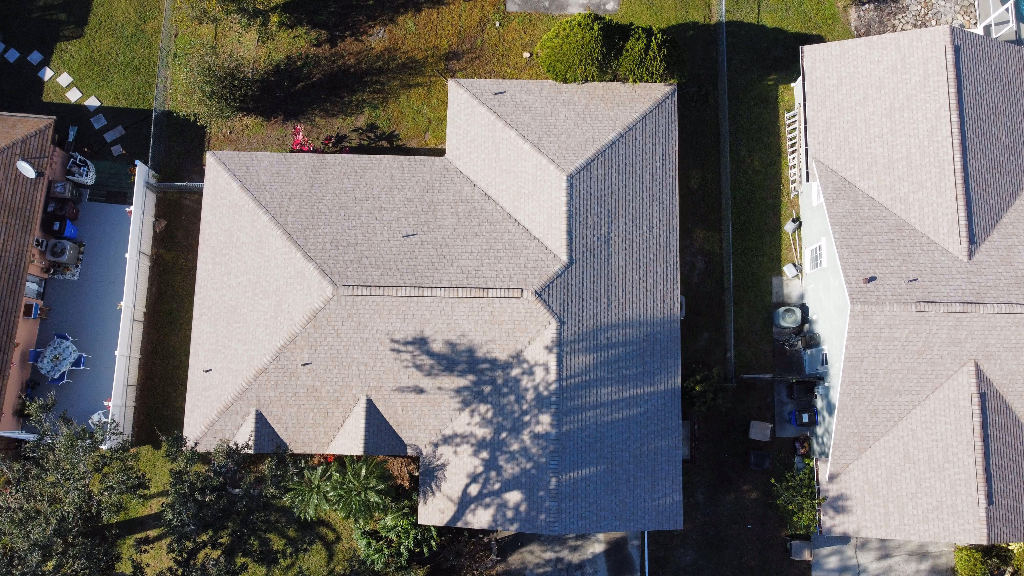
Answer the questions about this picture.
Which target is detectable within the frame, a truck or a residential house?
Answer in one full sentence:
The image shows a residential house.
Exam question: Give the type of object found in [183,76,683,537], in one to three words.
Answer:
house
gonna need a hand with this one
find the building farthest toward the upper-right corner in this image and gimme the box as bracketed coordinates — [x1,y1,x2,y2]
[789,20,1024,551]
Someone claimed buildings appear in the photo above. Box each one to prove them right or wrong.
[183,76,683,537]
[789,20,1024,551]
[0,109,68,456]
